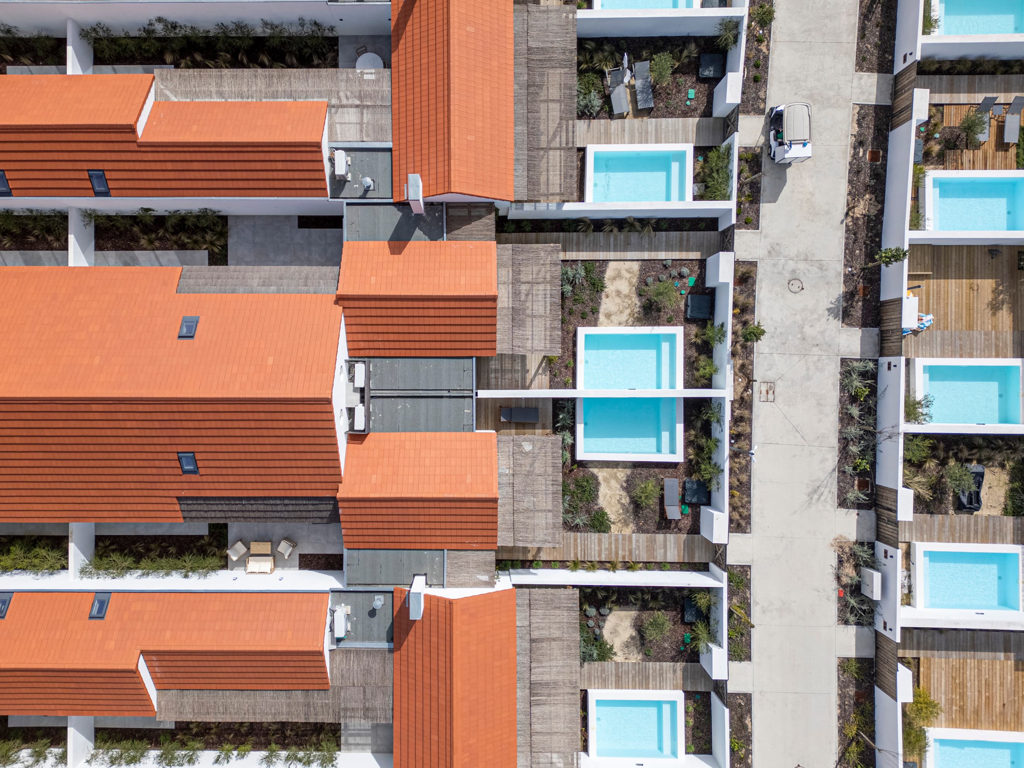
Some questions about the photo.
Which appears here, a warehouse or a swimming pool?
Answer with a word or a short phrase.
swimming pool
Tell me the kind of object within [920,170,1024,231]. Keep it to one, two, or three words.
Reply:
swimming pool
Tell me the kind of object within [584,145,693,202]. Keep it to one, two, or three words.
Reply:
swimming pool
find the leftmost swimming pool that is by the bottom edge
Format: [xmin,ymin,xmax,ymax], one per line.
[587,687,684,759]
